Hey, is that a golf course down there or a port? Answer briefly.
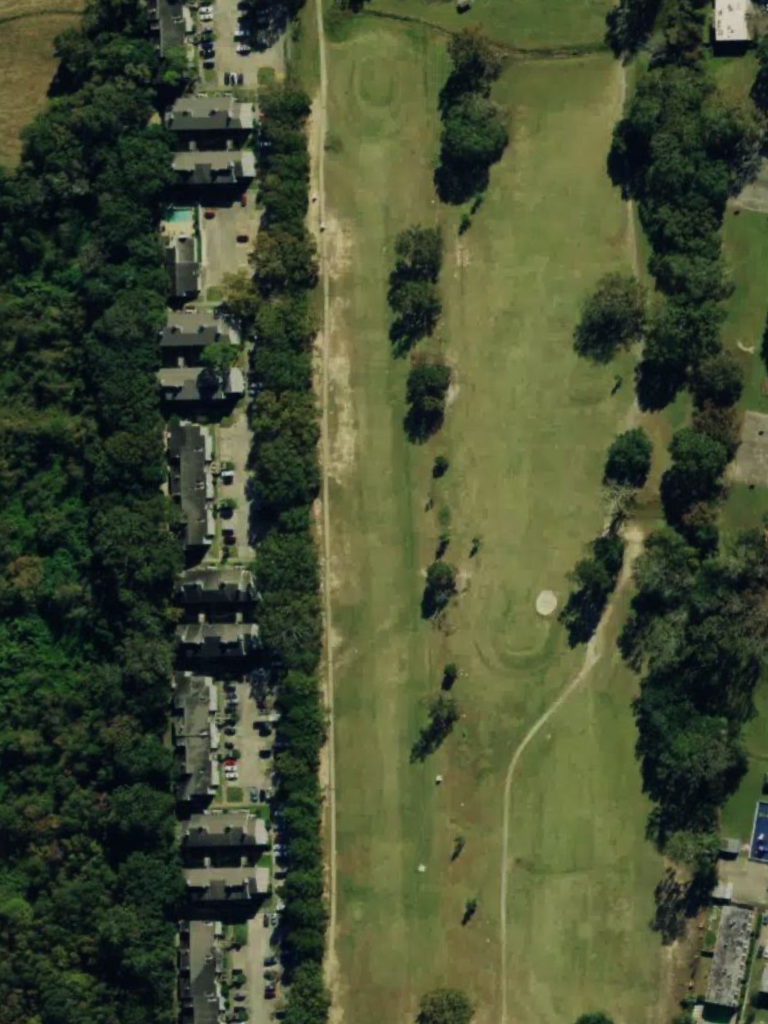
golf course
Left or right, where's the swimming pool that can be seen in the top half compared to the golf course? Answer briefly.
to the left of it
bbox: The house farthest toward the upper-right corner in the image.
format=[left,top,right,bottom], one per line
[715,0,755,39]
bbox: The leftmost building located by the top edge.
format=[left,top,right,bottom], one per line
[148,0,192,58]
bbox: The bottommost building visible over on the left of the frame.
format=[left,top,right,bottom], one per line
[178,921,224,1024]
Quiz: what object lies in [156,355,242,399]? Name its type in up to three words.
building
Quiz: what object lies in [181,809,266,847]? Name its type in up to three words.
building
